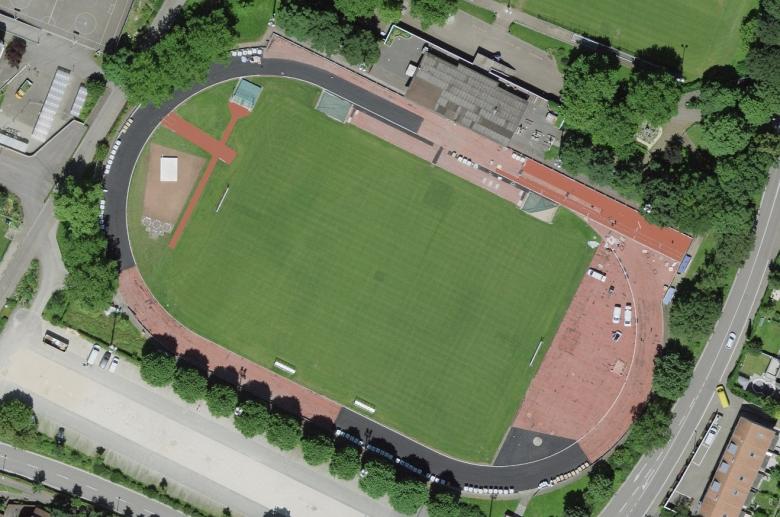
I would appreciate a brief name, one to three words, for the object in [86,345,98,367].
vehicle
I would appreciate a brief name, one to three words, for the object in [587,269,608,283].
vehicle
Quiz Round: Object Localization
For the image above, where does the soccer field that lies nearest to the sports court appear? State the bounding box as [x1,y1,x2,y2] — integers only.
[126,76,603,465]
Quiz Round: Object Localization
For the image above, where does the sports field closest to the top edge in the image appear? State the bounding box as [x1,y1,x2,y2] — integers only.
[504,0,762,80]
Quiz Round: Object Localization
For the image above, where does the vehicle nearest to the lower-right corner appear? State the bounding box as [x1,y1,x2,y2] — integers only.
[702,428,717,447]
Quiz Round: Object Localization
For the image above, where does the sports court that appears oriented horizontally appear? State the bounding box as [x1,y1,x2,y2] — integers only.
[0,0,133,55]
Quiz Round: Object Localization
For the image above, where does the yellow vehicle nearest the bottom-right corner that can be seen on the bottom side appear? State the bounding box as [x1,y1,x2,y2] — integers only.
[717,385,730,410]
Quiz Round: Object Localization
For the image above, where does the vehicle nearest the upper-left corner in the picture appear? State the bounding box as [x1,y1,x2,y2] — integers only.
[17,79,32,97]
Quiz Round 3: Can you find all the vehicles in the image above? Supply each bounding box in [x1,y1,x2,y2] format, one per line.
[86,345,98,367]
[99,351,110,369]
[726,332,736,349]
[623,305,632,326]
[702,428,717,447]
[717,385,730,410]
[612,330,622,343]
[109,356,119,374]
[587,269,608,283]
[17,79,32,97]
[612,305,622,324]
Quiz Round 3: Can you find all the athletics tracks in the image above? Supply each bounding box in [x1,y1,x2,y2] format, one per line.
[104,34,690,492]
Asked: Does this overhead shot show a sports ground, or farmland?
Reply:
sports ground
